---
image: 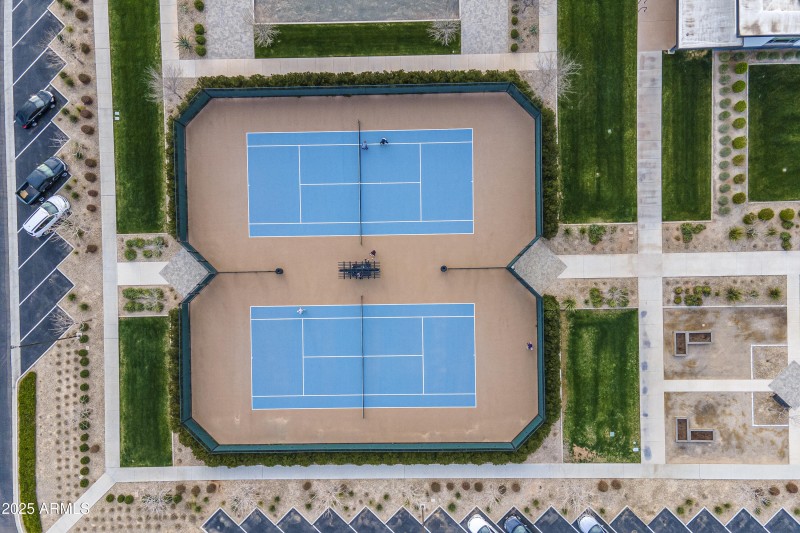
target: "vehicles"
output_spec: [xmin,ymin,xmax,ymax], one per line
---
[14,88,56,128]
[581,513,613,533]
[505,515,534,533]
[15,153,70,206]
[27,197,69,237]
[468,513,501,533]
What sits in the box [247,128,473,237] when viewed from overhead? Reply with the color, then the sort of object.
blue tennis court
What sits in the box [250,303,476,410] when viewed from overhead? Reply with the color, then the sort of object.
blue tennis court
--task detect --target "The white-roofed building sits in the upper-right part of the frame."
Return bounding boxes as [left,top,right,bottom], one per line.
[669,0,800,54]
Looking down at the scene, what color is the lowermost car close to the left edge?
white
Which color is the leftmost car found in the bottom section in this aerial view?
white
